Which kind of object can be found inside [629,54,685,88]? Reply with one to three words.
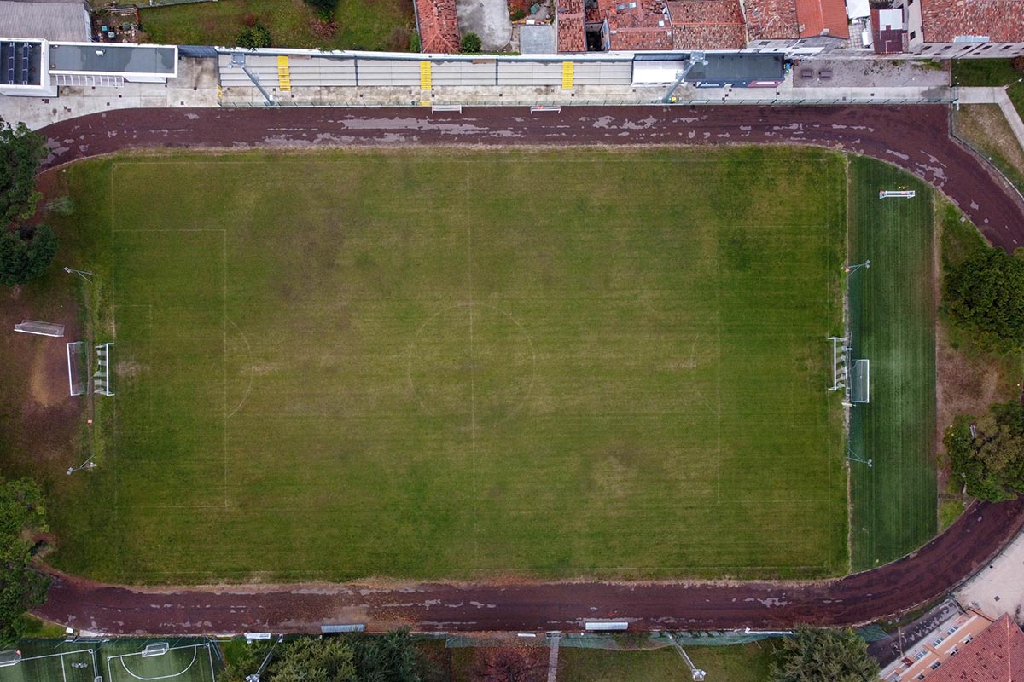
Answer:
building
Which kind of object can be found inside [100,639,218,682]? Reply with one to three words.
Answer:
sports field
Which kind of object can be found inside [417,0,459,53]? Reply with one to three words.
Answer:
house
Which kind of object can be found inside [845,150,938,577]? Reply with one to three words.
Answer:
sports field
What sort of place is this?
sports ground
